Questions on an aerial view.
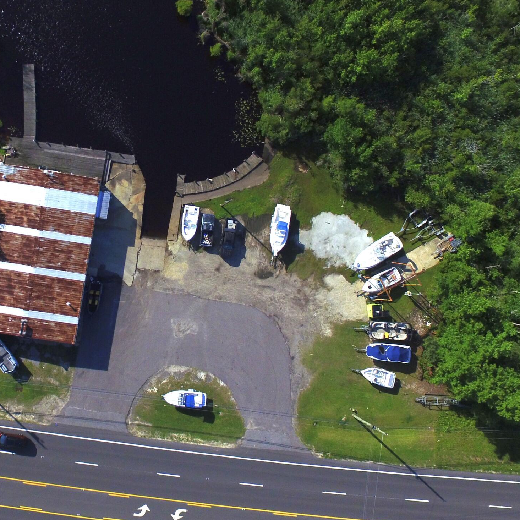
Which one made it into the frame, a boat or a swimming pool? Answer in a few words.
boat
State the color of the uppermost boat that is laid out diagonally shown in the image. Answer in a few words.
white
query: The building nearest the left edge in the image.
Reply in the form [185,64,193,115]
[0,165,100,345]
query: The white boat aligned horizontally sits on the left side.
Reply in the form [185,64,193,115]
[163,387,207,408]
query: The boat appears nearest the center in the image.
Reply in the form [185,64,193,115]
[270,200,292,258]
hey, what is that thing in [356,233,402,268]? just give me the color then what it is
white boat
